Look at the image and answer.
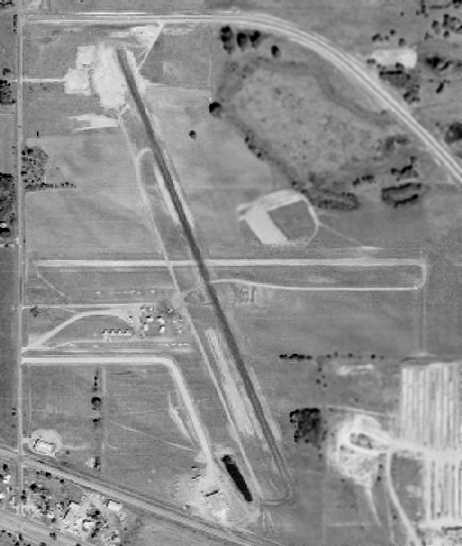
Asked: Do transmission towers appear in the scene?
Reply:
No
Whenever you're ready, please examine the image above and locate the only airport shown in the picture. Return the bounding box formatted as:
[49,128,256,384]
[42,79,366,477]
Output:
[22,47,427,505]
